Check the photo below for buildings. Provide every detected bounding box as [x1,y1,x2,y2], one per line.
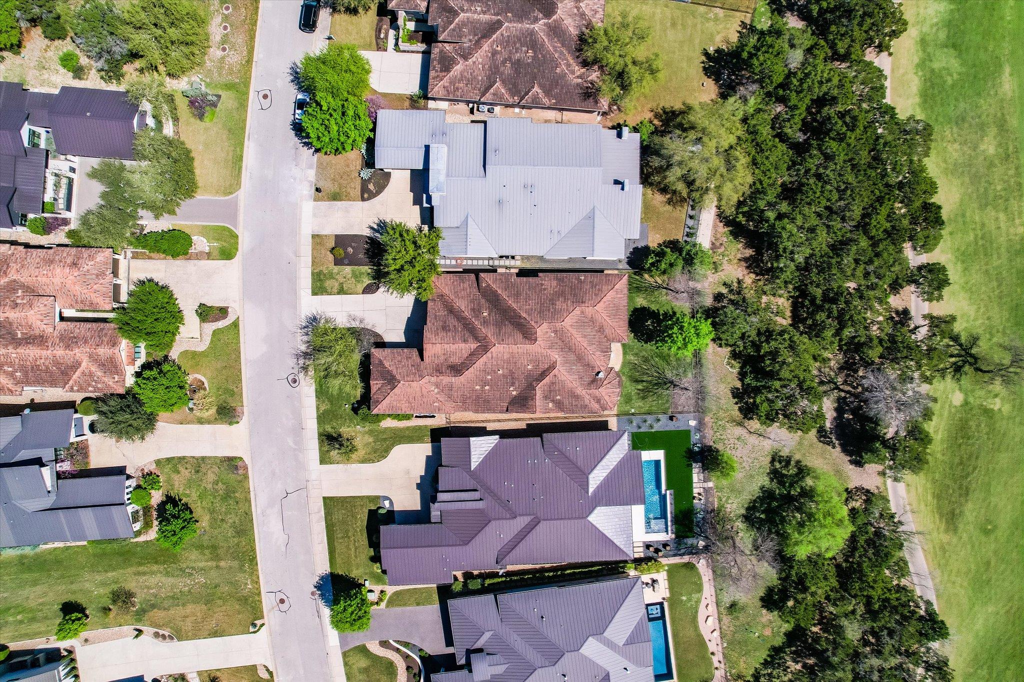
[431,573,655,682]
[380,430,645,587]
[0,408,143,547]
[375,109,642,260]
[387,0,608,114]
[0,82,152,229]
[370,272,628,414]
[0,652,80,682]
[0,243,146,396]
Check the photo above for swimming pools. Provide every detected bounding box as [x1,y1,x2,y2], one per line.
[633,451,676,541]
[645,602,677,682]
